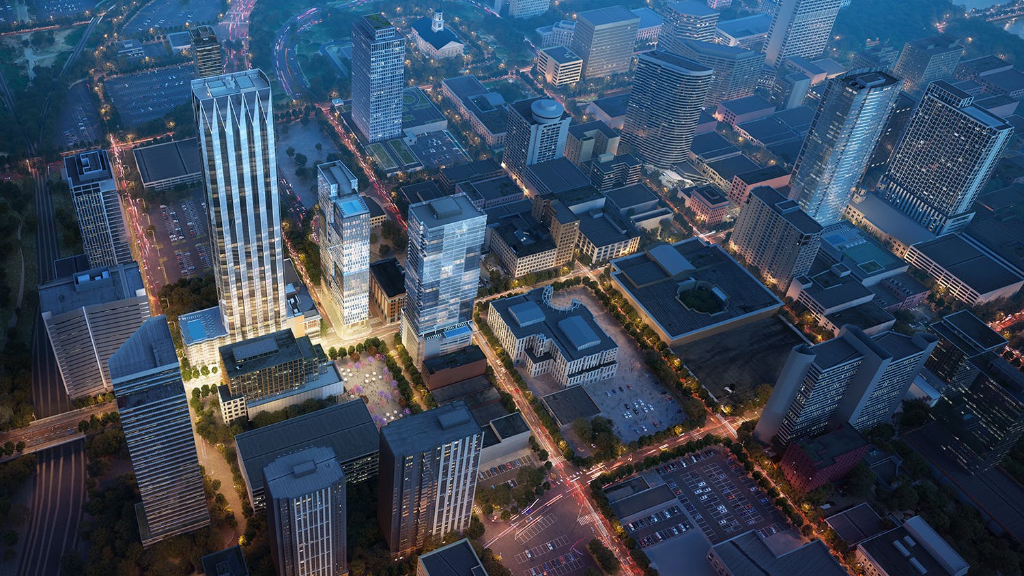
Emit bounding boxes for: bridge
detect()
[0,389,121,455]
